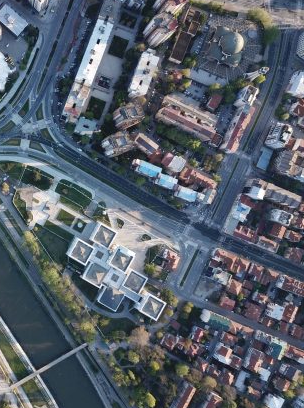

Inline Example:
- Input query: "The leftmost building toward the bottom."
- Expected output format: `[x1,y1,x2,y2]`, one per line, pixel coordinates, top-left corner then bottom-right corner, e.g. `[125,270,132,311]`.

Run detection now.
[67,237,94,266]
